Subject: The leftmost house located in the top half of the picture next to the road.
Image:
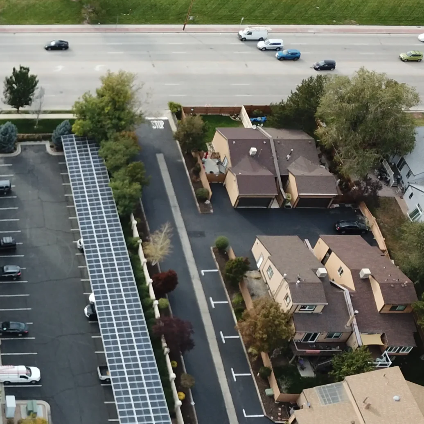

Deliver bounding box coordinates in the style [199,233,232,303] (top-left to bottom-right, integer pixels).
[212,125,338,210]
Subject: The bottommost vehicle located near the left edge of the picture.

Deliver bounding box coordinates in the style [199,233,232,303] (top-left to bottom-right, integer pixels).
[0,366,40,385]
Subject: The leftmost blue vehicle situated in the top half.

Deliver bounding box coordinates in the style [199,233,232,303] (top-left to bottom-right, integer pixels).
[274,49,302,61]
